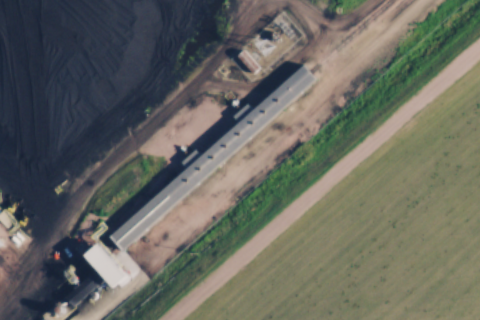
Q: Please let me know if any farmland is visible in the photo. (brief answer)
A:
Yes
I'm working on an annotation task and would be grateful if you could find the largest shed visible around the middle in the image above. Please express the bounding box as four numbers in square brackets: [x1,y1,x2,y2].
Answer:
[110,65,316,248]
